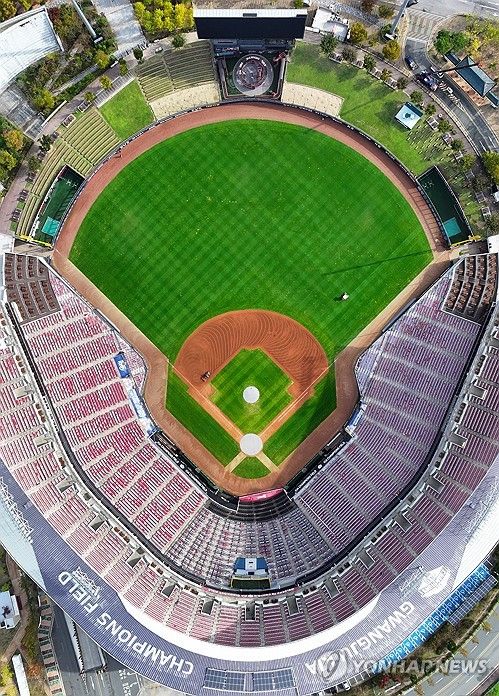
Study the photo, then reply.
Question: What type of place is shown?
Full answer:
This looks like a sports ground.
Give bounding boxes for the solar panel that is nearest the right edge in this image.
[450,578,498,625]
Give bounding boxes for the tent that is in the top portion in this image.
[391,97,426,135]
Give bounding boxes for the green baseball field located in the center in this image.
[46,103,455,503]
